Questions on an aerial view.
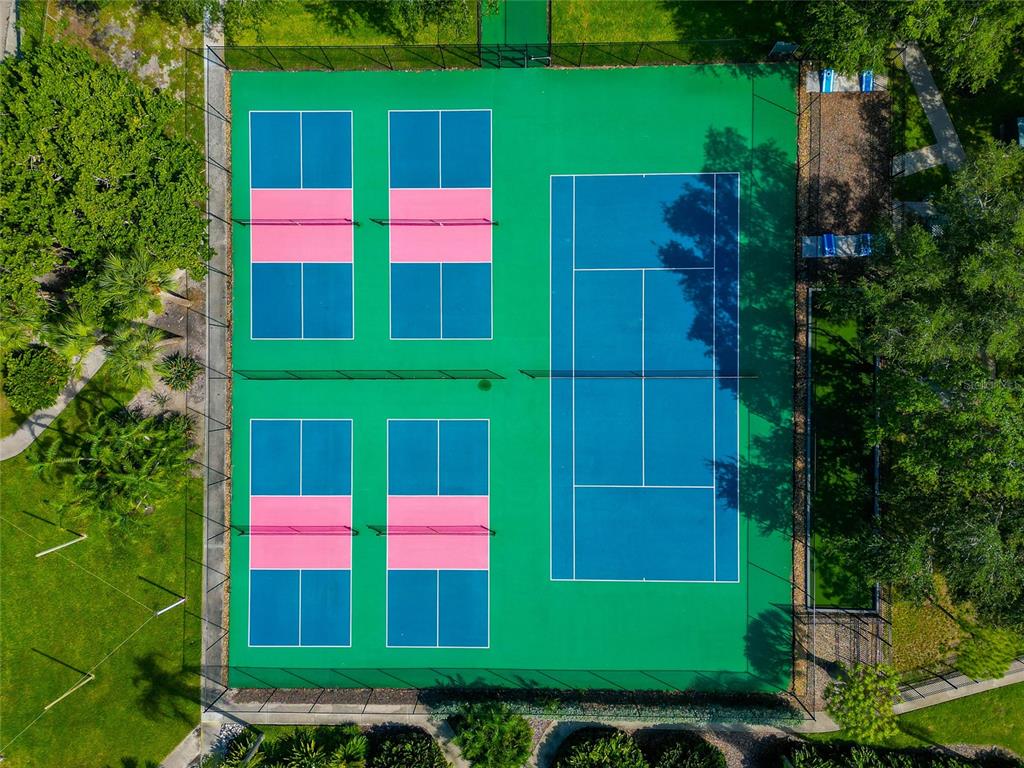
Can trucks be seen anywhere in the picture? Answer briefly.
No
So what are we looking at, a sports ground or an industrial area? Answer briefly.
sports ground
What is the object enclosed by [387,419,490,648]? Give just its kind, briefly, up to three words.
sports court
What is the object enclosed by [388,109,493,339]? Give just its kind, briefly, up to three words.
sports court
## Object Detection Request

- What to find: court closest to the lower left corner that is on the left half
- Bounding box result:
[248,419,352,647]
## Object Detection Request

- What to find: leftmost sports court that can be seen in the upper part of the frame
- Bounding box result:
[249,110,354,340]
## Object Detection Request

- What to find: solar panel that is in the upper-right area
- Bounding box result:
[763,41,800,75]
